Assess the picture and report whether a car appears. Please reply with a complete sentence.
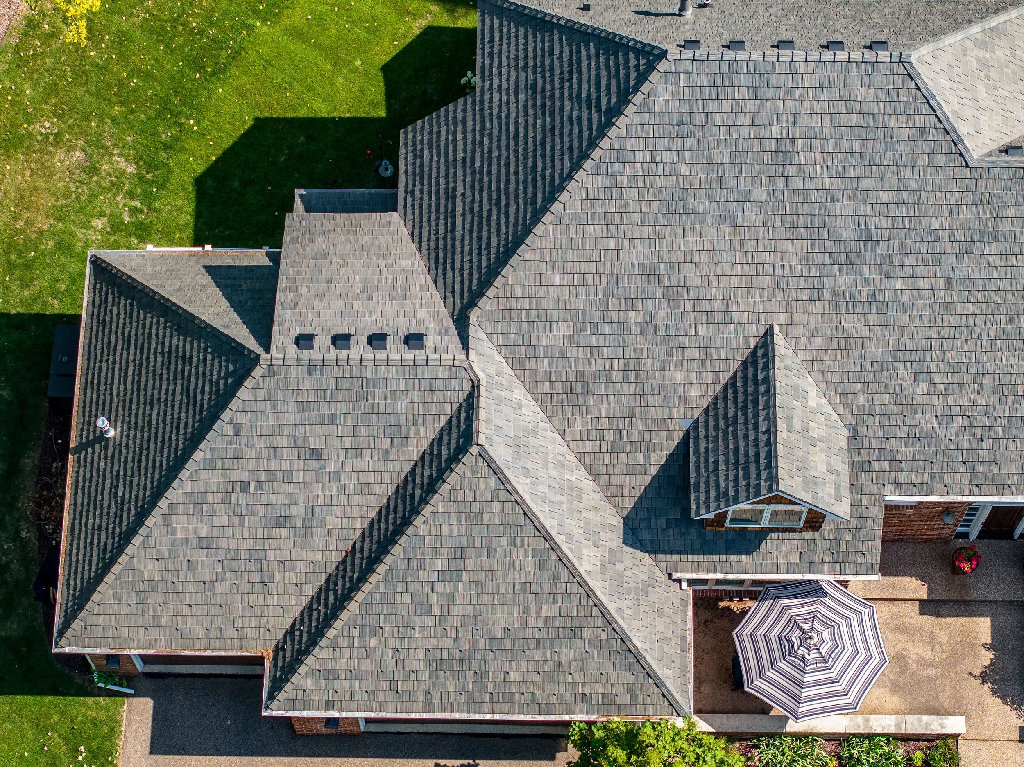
No, no car is visible in the scene.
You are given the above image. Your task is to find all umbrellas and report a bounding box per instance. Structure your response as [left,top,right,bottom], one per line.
[732,585,890,723]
